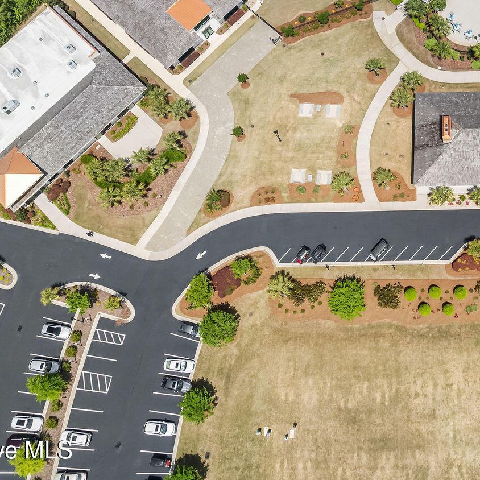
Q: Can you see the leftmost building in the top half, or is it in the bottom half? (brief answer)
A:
top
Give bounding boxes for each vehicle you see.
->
[296,246,313,265]
[159,376,192,392]
[59,428,93,446]
[27,358,60,374]
[163,358,196,373]
[40,323,72,340]
[371,238,390,262]
[150,456,173,469]
[10,415,44,432]
[173,322,209,339]
[142,421,176,438]
[5,432,39,447]
[311,245,326,264]
[55,470,88,480]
